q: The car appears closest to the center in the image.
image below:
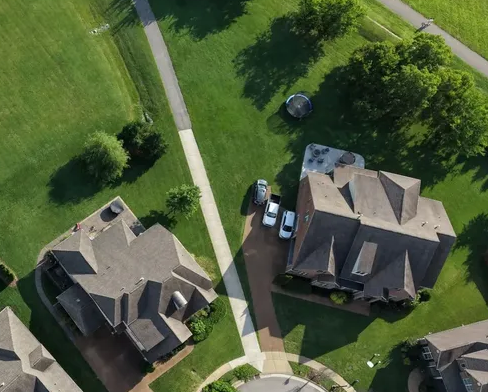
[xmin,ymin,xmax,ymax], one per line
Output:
[251,178,267,207]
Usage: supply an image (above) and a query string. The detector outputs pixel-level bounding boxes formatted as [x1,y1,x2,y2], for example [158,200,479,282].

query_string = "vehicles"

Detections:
[251,178,267,207]
[261,191,283,229]
[277,209,295,241]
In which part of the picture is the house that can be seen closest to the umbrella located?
right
